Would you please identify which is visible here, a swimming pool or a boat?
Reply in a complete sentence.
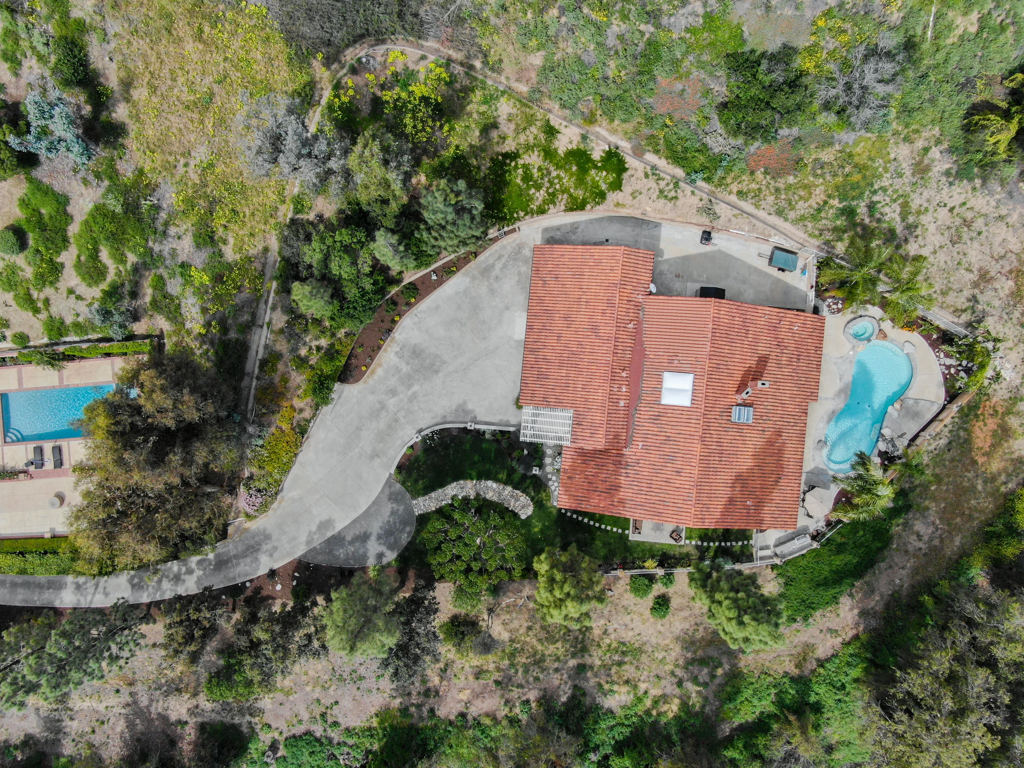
I can see a swimming pool in this picture.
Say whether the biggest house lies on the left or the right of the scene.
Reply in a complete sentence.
The biggest house sits on the right side.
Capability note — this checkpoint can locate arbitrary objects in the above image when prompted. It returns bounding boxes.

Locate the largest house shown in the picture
[517,243,827,532]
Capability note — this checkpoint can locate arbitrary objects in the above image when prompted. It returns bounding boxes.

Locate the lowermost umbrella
[805,487,833,515]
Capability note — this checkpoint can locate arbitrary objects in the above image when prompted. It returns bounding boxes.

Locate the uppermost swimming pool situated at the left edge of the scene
[0,382,157,444]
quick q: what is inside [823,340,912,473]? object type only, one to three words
swimming pool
